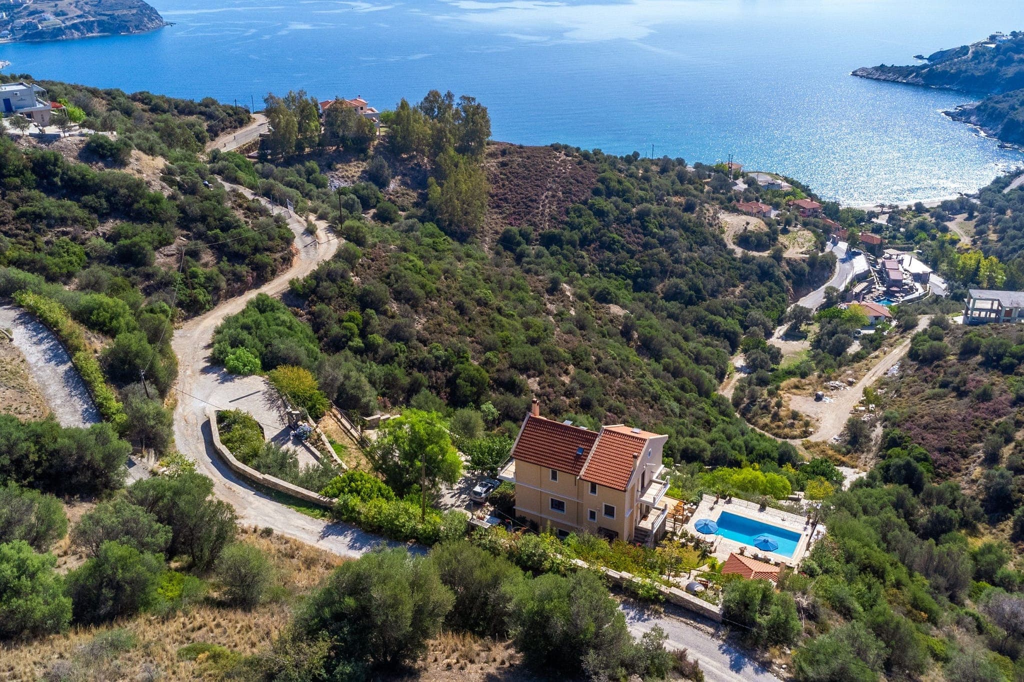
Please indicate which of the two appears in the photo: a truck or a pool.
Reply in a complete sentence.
This aerial view contains a pool.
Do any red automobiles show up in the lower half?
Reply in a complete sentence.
No, I see no red automobile in the lower half.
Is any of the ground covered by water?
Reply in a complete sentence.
Yes, water shows up in the scene.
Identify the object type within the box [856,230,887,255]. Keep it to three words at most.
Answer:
house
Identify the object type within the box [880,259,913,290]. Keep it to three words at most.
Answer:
building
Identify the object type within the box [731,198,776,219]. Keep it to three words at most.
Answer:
house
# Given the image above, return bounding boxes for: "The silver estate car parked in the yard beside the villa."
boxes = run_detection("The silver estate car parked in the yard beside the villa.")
[468,475,501,502]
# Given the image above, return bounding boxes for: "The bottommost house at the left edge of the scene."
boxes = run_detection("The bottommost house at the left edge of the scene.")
[0,87,62,126]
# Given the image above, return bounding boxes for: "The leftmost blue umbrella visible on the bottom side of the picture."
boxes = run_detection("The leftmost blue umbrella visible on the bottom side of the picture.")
[694,517,718,536]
